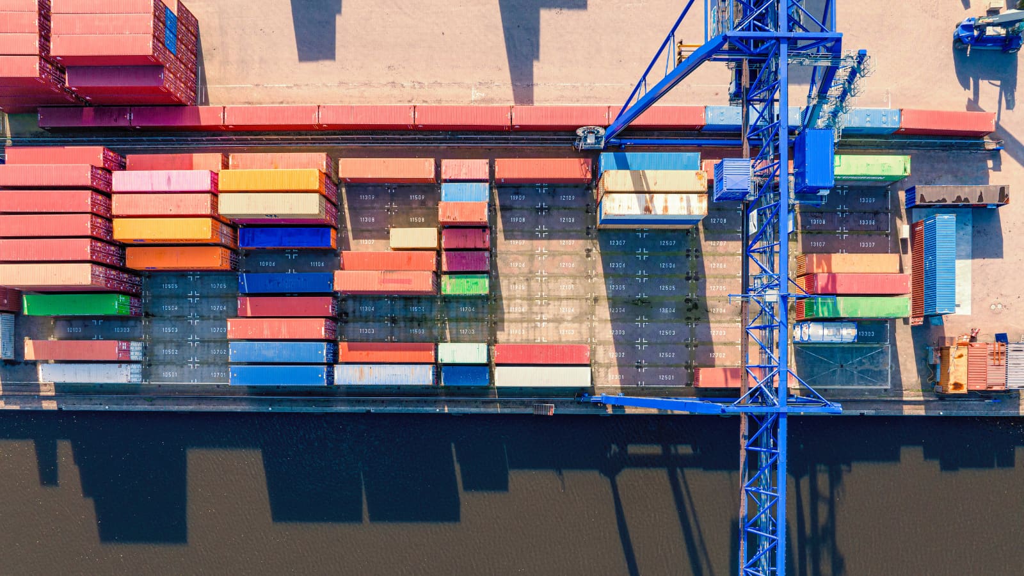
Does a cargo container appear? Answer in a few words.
Yes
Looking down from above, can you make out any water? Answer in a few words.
Yes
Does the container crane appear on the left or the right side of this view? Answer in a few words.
right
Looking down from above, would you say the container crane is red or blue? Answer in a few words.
blue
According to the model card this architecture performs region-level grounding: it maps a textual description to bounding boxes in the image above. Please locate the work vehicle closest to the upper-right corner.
[950,5,1024,60]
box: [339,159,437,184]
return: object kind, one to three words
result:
shipping container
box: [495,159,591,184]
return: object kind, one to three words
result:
shipping container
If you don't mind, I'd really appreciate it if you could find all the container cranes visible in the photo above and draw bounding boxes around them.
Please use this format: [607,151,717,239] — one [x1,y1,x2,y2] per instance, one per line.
[572,0,893,576]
